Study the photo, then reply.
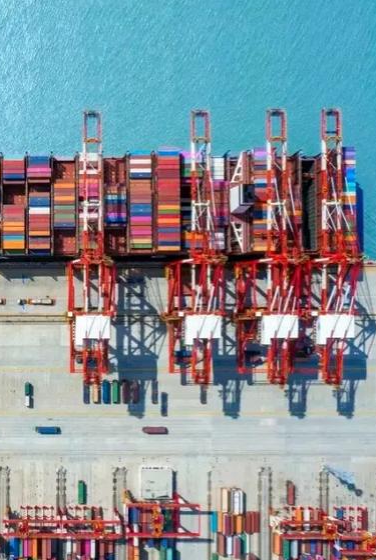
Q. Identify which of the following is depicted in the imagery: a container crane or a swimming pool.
container crane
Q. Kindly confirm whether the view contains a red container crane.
Yes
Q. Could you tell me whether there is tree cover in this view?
No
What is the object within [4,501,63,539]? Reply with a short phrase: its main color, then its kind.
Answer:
red container crane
